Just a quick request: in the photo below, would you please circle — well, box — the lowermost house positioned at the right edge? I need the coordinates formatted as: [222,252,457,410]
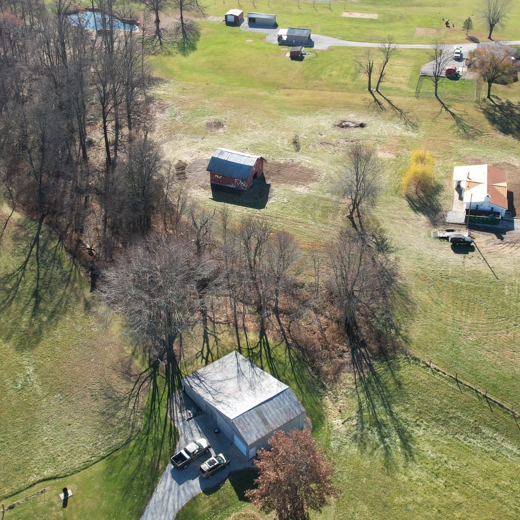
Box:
[453,164,508,222]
